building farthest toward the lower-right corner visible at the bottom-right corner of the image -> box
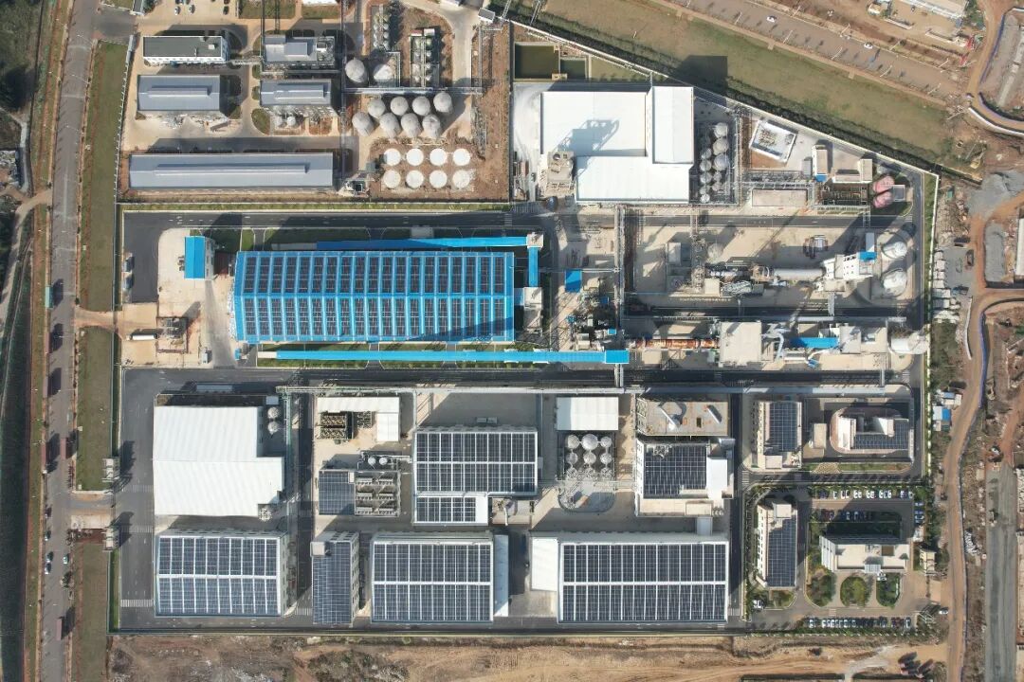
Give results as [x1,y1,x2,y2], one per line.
[913,547,934,572]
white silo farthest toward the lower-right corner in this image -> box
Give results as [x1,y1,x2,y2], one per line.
[889,336,927,356]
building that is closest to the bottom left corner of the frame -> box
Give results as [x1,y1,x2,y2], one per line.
[103,524,122,550]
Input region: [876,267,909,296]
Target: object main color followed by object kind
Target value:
white silo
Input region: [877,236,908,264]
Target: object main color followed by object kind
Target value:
white silo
